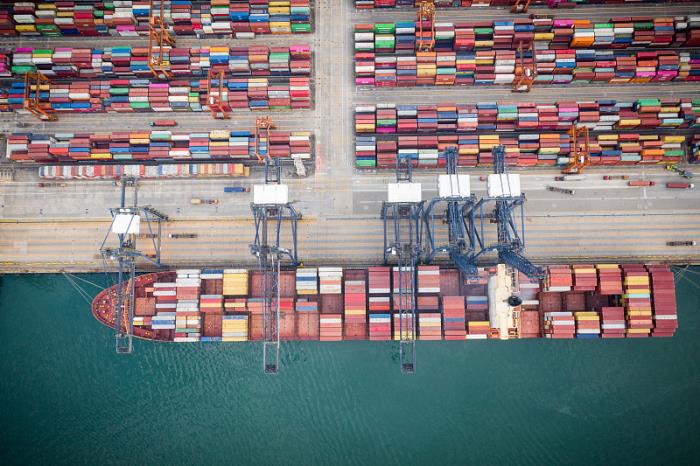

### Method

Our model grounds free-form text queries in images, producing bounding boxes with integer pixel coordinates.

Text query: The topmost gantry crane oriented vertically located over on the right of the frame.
[413,1,437,54]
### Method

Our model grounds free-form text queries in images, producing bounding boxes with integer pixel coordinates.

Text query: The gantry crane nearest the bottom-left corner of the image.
[102,176,176,354]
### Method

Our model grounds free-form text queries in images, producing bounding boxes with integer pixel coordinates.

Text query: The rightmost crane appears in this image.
[560,125,592,174]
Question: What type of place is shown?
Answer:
port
